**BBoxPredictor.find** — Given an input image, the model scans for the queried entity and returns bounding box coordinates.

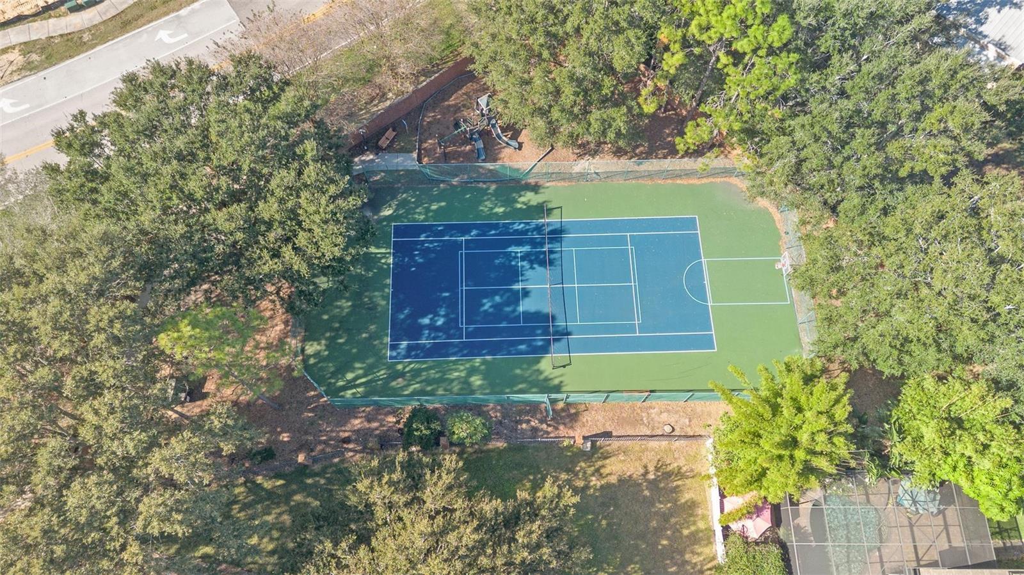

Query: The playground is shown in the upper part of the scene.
[434,102,515,159]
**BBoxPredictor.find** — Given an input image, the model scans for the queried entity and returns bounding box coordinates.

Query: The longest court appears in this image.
[301,180,802,401]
